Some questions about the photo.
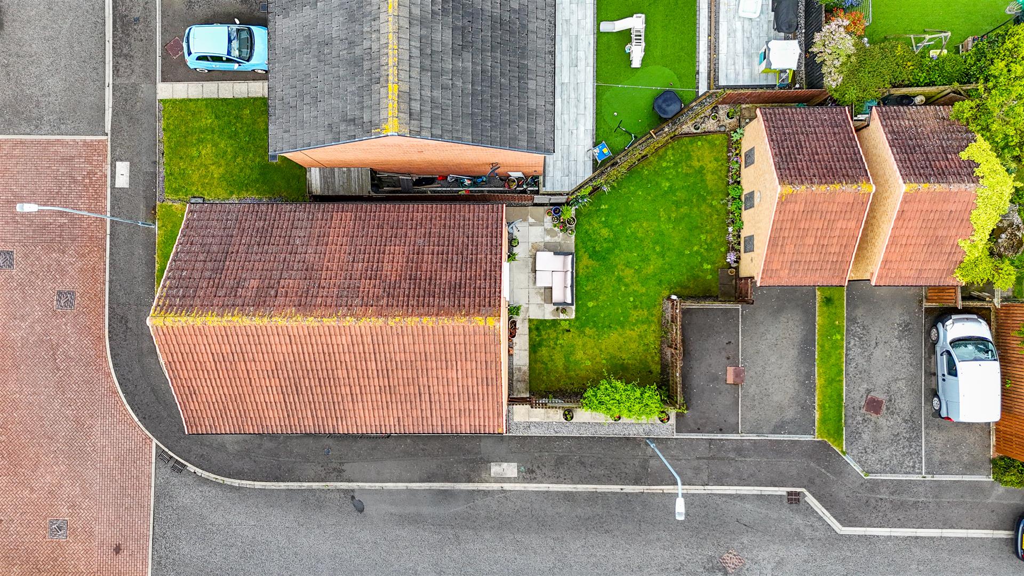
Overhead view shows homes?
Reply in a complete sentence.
Yes, a home is visible in the scene.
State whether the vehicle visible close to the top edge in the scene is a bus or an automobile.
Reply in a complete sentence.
Specifically, the vehicle visible close to the top edge is an automobile.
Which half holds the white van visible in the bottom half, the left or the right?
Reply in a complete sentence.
The white van visible in the bottom half is on the right side of the image.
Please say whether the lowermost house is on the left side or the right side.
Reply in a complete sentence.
The lowermost house sits on the left side.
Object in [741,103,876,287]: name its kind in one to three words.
building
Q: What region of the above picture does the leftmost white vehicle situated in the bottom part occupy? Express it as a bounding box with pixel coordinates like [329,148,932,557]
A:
[925,309,1001,424]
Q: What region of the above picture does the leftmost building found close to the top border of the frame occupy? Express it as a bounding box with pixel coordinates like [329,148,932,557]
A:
[266,0,558,175]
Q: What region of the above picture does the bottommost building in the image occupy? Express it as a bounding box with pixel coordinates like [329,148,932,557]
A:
[146,196,510,436]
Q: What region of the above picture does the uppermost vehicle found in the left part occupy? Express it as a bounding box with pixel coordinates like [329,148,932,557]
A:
[180,19,266,78]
